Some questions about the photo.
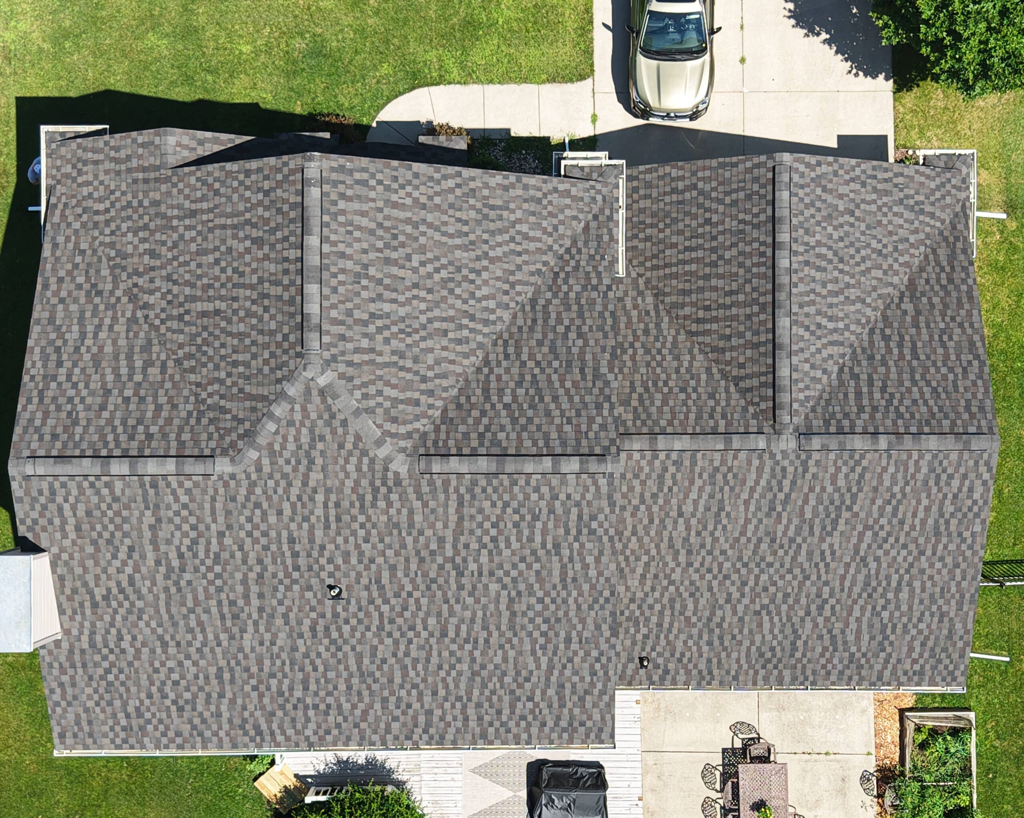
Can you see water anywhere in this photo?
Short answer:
No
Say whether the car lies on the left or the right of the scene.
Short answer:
right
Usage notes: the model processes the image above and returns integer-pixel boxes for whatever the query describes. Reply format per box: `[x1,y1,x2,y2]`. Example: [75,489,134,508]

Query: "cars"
[618,0,728,125]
